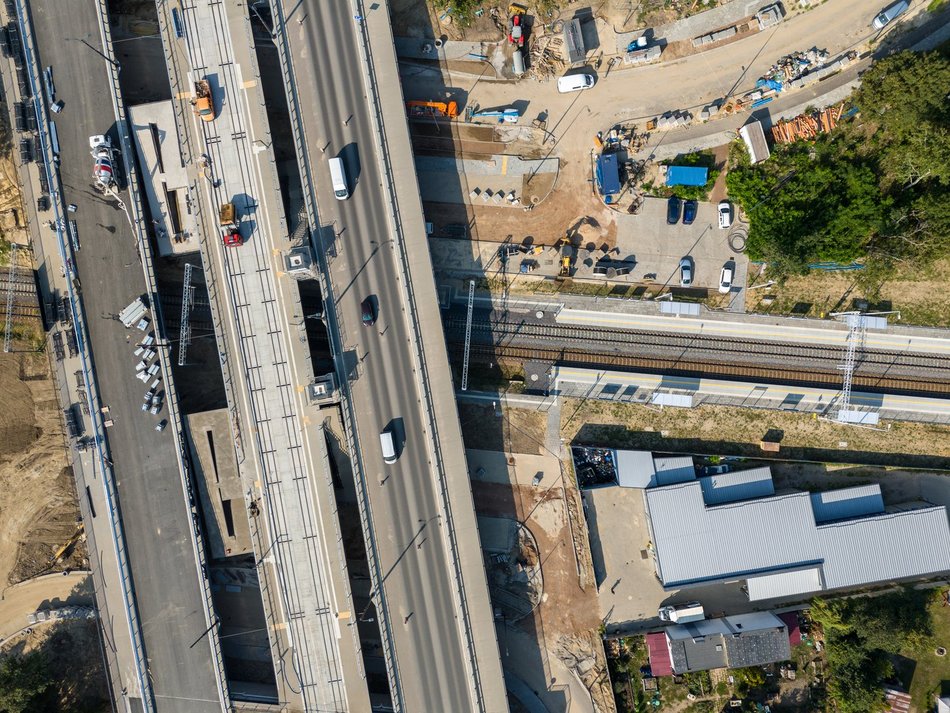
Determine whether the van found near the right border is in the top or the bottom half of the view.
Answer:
top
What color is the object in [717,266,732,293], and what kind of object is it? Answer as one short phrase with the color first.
white car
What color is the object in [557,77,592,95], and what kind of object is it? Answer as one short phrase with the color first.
white vehicle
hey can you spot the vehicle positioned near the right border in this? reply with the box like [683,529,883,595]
[867,0,910,34]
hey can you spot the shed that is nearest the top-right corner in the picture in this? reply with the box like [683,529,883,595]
[738,121,770,166]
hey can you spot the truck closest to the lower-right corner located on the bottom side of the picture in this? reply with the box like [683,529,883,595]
[654,595,704,622]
